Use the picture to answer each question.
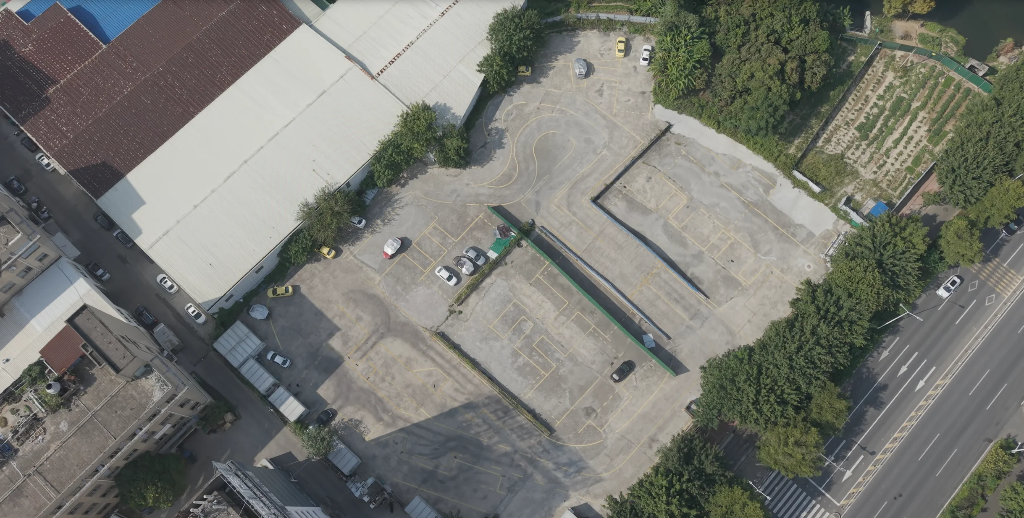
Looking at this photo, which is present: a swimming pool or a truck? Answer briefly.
truck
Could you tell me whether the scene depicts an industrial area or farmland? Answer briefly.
industrial area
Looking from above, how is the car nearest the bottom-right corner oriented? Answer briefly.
on a diagonal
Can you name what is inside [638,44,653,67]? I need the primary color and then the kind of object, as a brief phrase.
white car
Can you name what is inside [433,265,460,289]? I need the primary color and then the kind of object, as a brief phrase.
white car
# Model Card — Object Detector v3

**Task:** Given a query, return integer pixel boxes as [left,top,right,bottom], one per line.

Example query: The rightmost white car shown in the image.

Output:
[936,273,964,298]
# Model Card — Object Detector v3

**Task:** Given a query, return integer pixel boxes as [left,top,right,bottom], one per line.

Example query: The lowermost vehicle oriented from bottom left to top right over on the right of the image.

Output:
[608,358,636,384]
